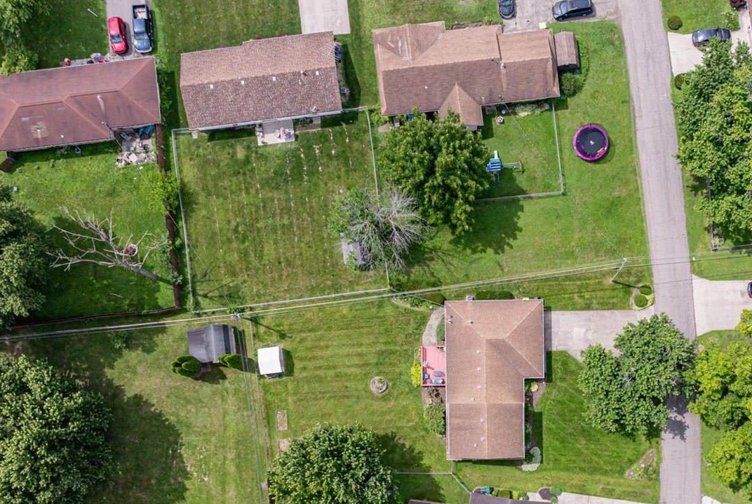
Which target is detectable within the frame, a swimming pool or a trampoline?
trampoline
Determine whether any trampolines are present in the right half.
Yes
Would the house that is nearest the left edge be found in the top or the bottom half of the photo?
top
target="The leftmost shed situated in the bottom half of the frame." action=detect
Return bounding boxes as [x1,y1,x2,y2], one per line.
[186,324,235,369]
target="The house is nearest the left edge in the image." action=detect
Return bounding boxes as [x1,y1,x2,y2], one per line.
[0,55,164,152]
